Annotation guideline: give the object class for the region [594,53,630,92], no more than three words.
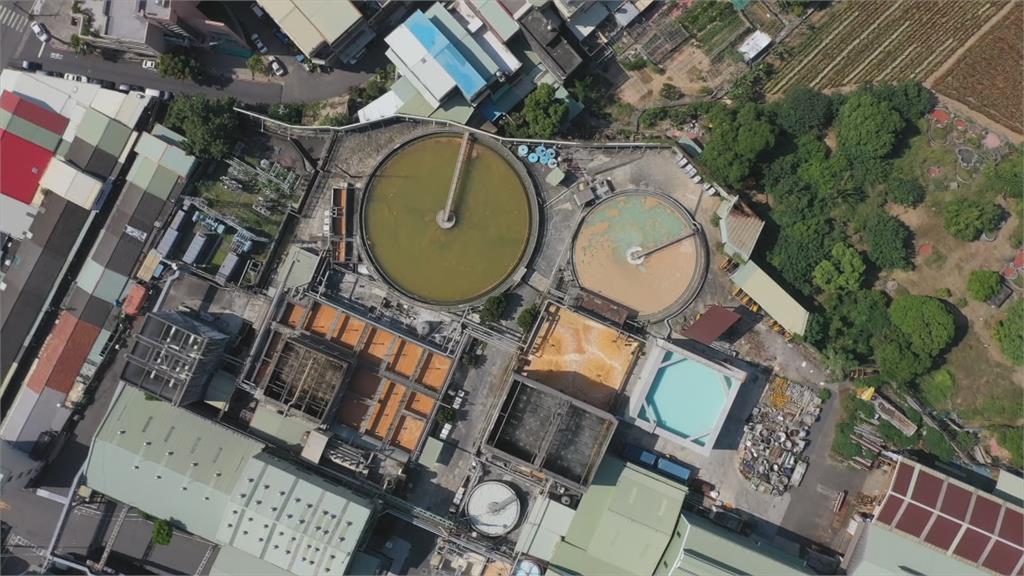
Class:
house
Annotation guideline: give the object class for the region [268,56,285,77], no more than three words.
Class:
car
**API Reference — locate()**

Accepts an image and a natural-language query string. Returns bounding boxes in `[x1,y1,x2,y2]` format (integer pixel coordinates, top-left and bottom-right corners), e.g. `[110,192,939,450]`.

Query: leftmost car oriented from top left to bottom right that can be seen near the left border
[30,20,49,41]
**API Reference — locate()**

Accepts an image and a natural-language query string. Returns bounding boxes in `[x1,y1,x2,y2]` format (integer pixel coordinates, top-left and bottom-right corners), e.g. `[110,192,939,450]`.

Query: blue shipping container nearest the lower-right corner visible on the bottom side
[655,454,692,481]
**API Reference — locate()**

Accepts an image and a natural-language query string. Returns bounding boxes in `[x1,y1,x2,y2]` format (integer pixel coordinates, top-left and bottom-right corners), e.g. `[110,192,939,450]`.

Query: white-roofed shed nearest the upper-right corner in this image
[734,31,772,65]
